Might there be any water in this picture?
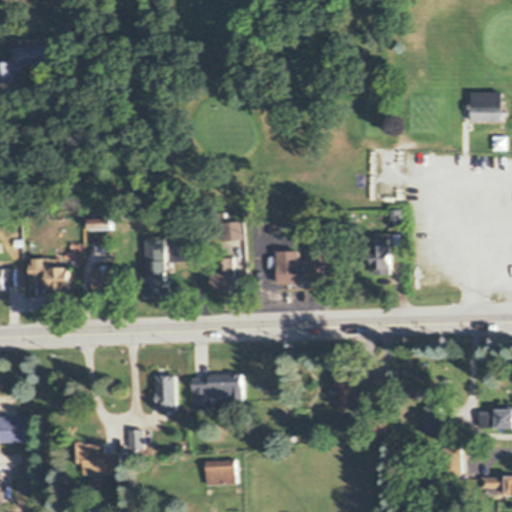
No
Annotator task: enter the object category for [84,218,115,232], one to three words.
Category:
building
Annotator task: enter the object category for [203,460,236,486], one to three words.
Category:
barn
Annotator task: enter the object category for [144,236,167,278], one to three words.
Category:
house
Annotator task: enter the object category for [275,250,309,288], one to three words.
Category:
house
